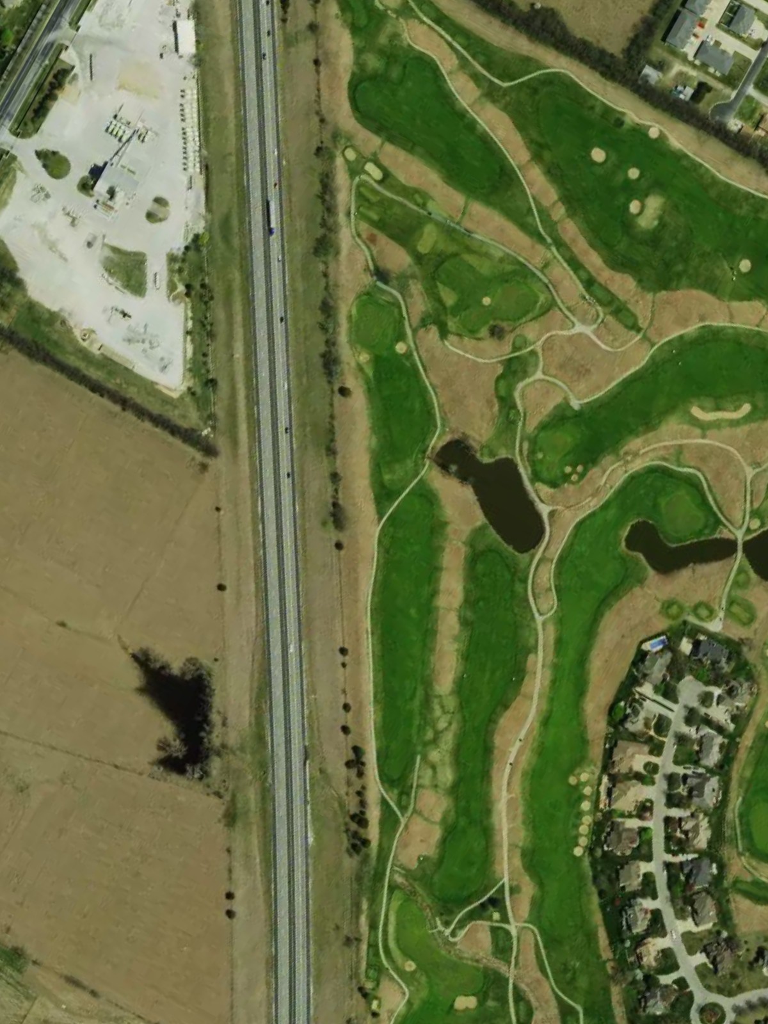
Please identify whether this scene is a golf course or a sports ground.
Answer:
golf course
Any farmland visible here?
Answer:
Yes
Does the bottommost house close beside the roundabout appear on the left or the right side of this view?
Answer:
right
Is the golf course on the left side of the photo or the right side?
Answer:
right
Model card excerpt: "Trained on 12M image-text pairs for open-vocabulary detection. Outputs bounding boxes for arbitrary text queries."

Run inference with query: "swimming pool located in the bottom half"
[644,634,668,650]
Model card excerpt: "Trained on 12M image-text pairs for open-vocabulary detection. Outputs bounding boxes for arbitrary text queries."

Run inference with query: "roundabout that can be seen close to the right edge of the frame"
[689,993,736,1024]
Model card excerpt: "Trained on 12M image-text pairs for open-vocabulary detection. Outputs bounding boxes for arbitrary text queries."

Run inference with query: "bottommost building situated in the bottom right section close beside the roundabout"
[640,984,681,1016]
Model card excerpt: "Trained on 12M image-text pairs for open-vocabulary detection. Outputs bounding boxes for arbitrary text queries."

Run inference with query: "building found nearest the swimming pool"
[643,648,677,688]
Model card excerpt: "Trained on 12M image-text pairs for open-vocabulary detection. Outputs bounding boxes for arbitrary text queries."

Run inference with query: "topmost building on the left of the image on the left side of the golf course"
[175,19,194,53]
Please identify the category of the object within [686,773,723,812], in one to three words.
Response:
house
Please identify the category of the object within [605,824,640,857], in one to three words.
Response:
house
